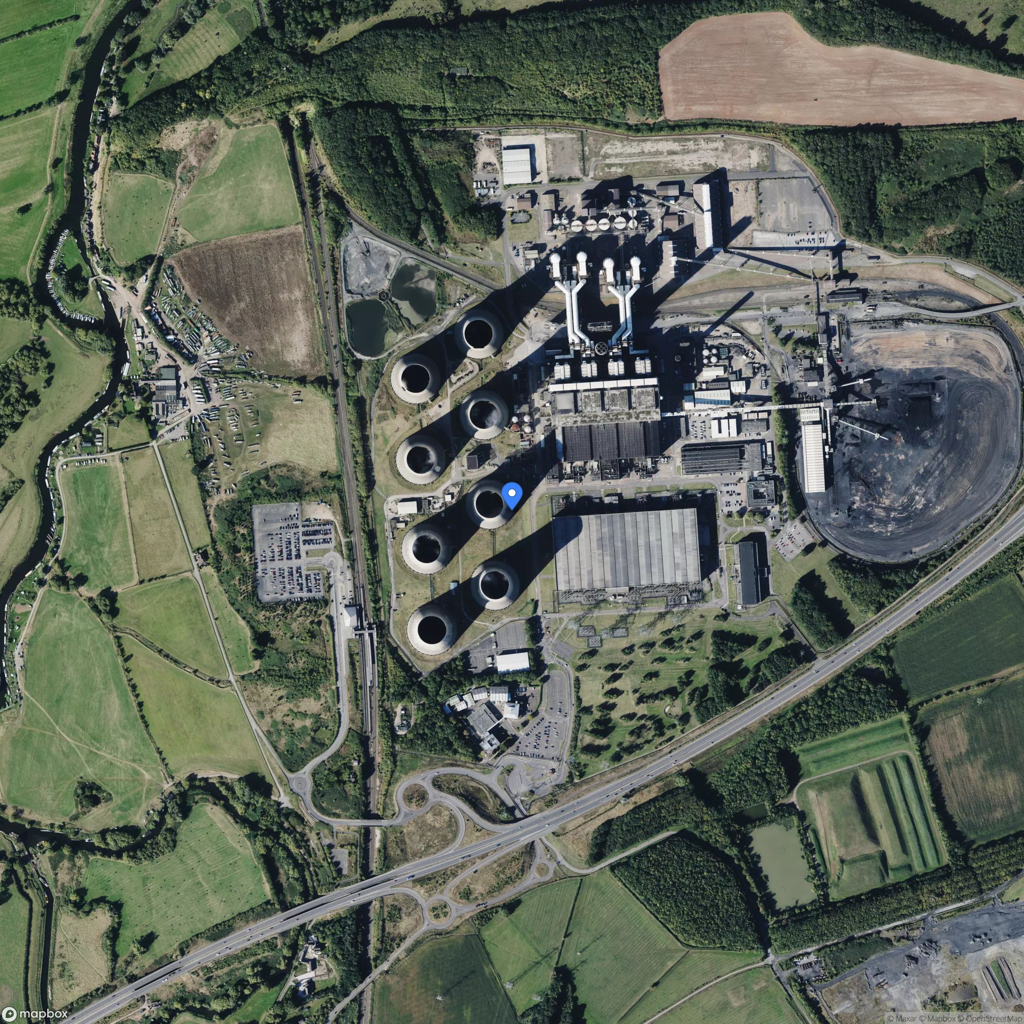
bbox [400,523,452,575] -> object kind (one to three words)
cooling tower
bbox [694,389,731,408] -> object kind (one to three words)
shed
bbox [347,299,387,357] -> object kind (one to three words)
pond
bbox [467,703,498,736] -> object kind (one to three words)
building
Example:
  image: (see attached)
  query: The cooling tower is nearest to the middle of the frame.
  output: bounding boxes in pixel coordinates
[464,478,516,530]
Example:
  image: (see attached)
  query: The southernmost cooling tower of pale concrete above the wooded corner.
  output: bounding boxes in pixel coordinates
[406,604,458,656]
